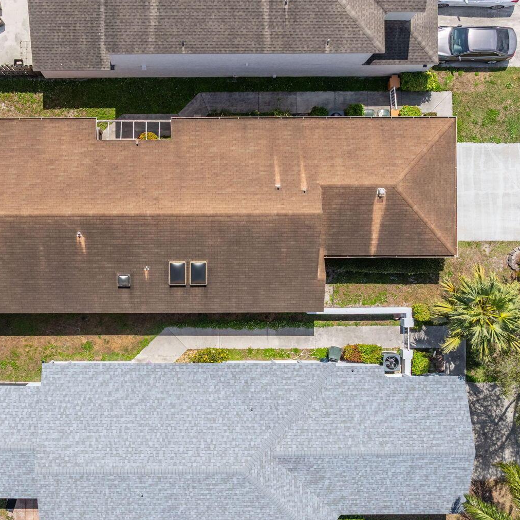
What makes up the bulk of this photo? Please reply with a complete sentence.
Most of the picture is covered by buildings.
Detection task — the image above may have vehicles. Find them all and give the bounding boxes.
[437,21,516,63]
[437,0,517,8]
